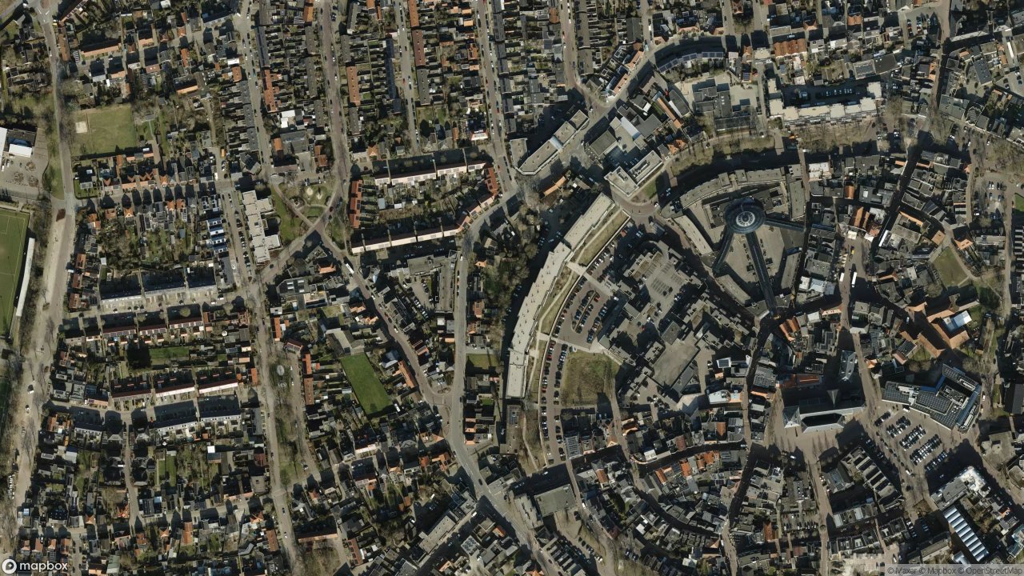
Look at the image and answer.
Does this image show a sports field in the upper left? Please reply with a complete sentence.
Yes, there is a sports field in the upper left.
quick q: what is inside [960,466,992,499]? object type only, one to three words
building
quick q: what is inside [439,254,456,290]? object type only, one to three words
building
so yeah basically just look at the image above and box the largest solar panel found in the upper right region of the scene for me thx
[853,61,875,79]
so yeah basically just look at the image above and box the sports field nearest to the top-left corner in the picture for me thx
[72,104,136,157]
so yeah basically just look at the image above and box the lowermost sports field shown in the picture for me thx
[0,208,30,334]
